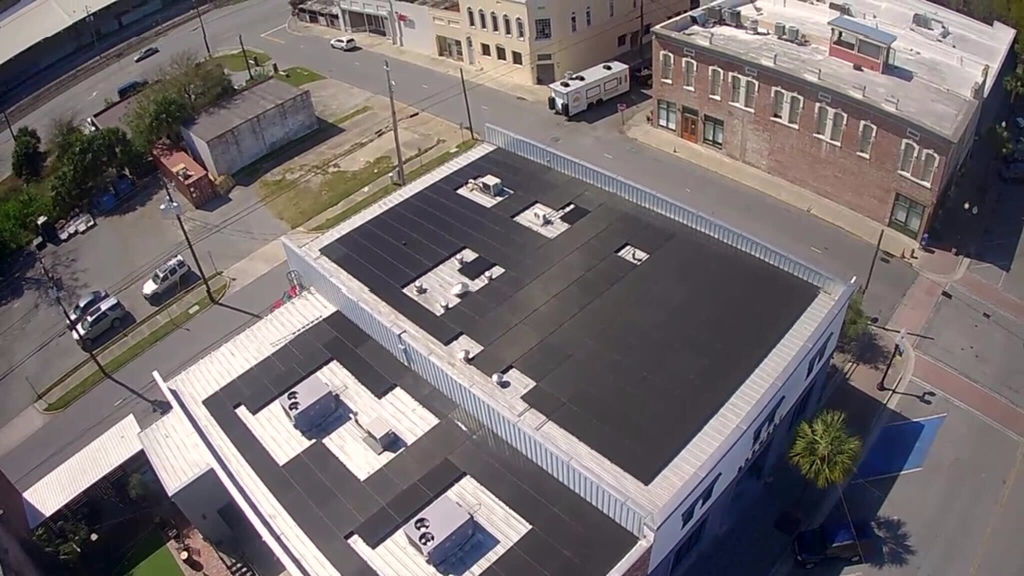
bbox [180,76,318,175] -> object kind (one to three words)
building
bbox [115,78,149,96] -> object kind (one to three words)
vehicle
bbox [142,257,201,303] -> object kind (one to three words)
car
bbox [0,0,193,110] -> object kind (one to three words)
warehouse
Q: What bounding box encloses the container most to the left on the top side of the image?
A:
[152,134,215,206]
